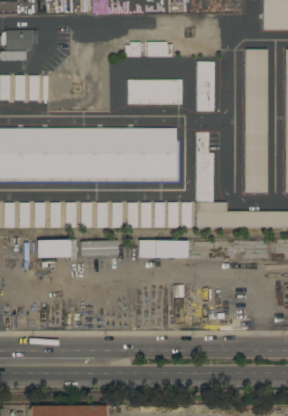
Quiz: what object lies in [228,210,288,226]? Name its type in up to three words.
building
